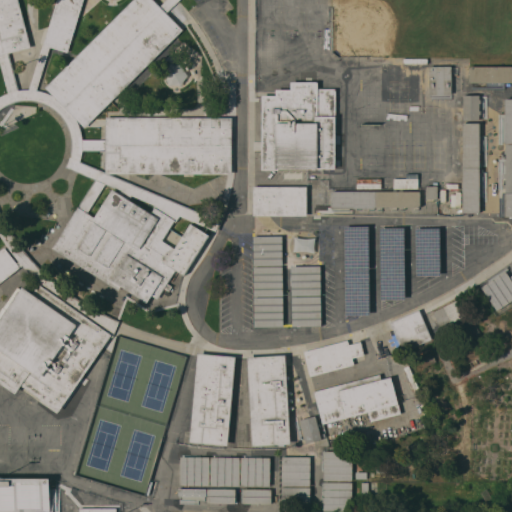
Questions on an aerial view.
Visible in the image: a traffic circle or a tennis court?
tennis court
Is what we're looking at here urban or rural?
urban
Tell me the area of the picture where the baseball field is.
top right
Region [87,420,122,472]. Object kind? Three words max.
tennis court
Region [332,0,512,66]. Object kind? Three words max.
baseball field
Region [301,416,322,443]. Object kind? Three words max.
shed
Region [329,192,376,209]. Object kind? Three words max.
building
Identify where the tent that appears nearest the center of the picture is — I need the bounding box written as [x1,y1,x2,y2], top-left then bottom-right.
[294,238,316,253]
